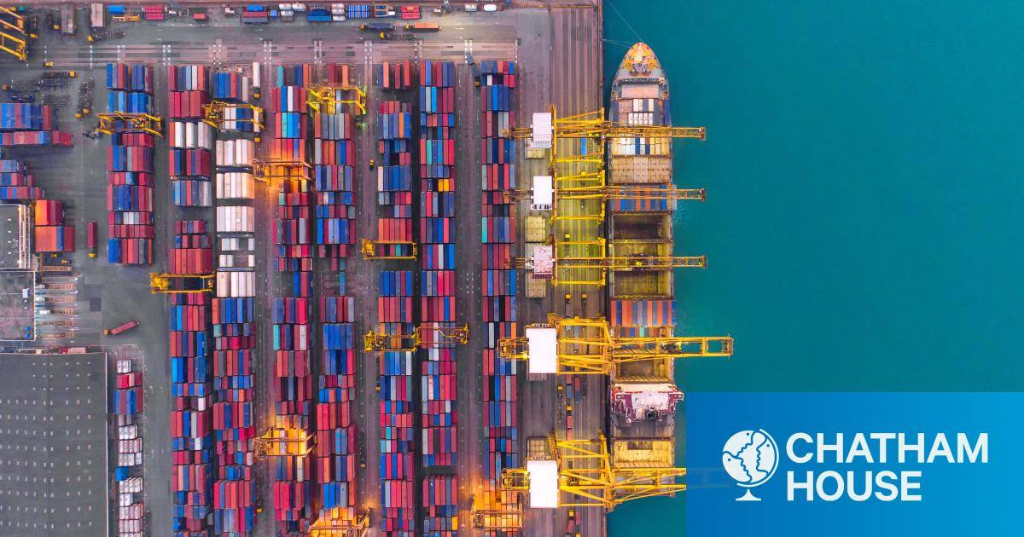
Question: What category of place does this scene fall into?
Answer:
port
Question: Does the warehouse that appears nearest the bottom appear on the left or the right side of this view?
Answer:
left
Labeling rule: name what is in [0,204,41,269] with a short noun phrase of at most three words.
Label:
building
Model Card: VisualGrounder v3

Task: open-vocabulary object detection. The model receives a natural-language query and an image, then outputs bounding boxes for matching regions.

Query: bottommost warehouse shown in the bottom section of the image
[0,351,120,537]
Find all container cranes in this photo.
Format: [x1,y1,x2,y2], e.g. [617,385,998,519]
[495,313,736,380]
[497,106,706,167]
[304,84,366,113]
[497,434,737,514]
[155,271,220,294]
[93,111,162,139]
[310,513,369,537]
[413,321,469,346]
[200,101,267,130]
[468,498,526,531]
[497,169,707,226]
[251,158,316,184]
[498,235,707,289]
[0,4,26,37]
[362,239,422,263]
[362,329,423,354]
[254,428,319,459]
